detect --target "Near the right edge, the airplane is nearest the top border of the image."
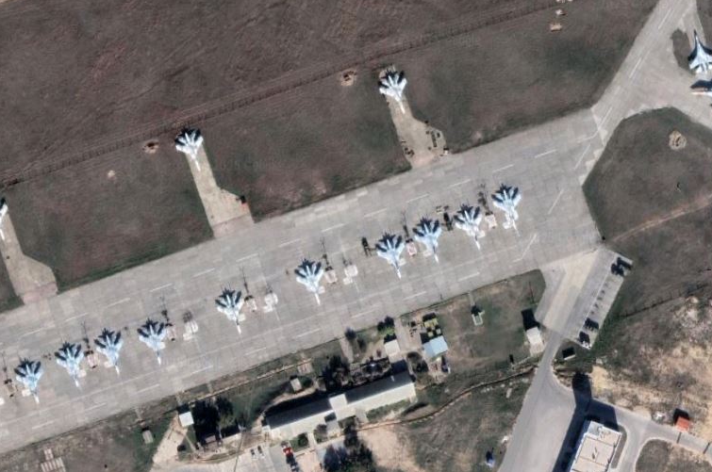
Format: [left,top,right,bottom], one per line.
[690,36,712,76]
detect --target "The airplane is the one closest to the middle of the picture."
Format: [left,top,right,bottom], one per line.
[377,237,405,278]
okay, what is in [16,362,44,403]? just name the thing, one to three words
airplane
